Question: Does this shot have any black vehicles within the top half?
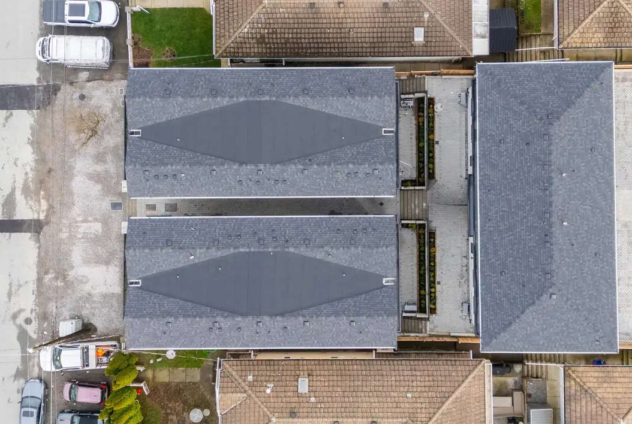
No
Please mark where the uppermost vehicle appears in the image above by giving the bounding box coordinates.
[43,0,119,27]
